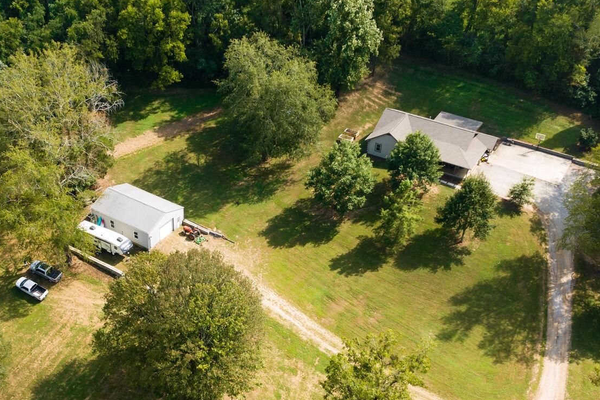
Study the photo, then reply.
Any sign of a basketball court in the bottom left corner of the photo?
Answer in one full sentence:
No, no basketball court can be made out in the bottom left corner of the photo.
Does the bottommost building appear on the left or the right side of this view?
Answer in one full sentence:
The bottommost building sits on the left side.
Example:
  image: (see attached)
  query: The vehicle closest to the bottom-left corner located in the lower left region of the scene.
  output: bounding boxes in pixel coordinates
[14,278,52,304]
